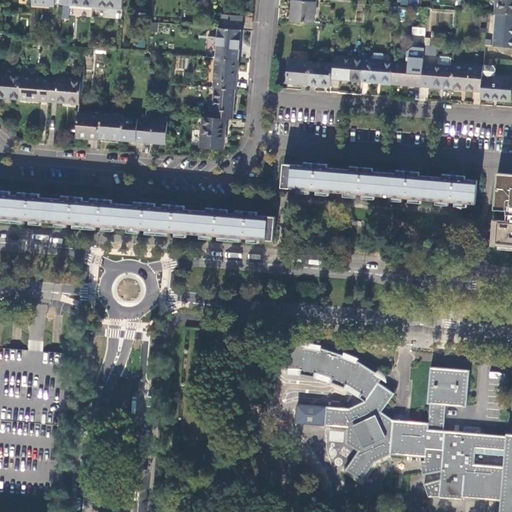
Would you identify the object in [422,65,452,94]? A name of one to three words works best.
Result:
house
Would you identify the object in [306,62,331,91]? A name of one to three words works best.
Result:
house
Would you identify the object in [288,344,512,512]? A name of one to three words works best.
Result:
building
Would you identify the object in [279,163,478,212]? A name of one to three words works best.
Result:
building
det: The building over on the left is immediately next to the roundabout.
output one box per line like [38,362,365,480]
[0,192,274,248]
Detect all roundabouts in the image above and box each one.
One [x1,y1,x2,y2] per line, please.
[84,254,177,321]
